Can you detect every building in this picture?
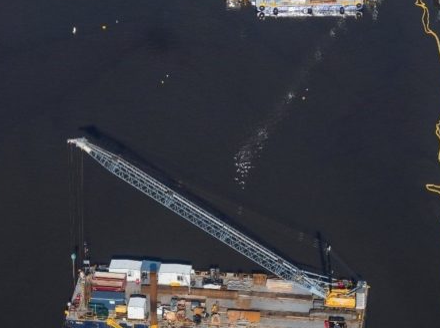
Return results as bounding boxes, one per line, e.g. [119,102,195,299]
[109,260,144,284]
[157,262,194,287]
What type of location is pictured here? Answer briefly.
port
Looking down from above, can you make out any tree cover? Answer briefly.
No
